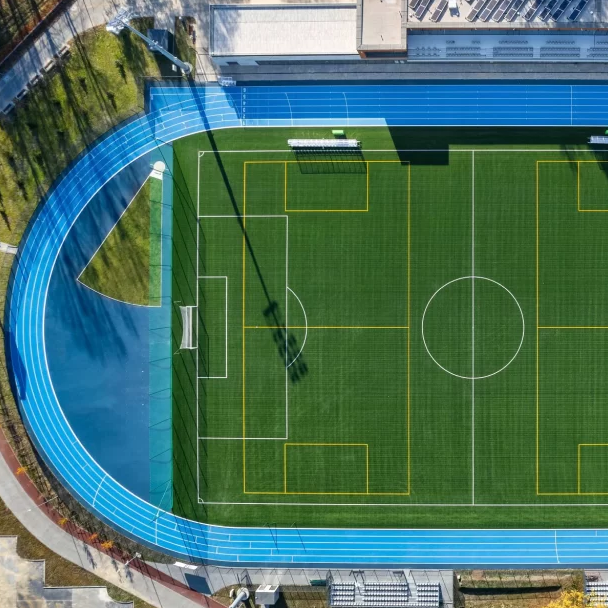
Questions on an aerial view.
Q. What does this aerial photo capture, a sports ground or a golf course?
sports ground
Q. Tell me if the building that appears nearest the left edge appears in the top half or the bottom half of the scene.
top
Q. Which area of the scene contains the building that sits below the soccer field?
bottom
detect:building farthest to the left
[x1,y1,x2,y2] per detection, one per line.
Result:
[147,30,175,55]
